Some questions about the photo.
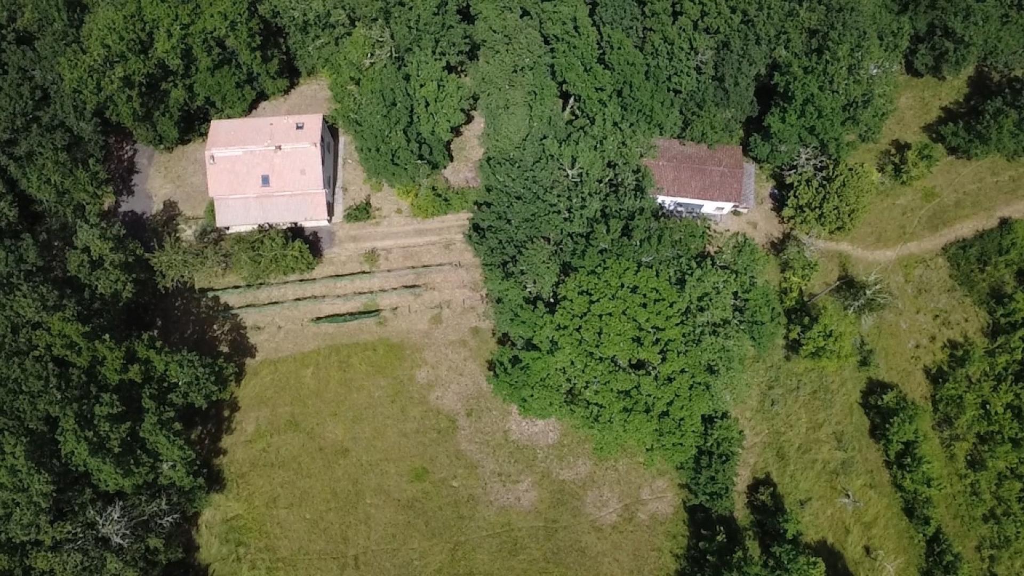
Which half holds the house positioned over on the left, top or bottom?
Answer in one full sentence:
The house positioned over on the left is in the top half of the image.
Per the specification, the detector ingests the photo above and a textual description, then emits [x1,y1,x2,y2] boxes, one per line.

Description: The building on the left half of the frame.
[203,113,333,231]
